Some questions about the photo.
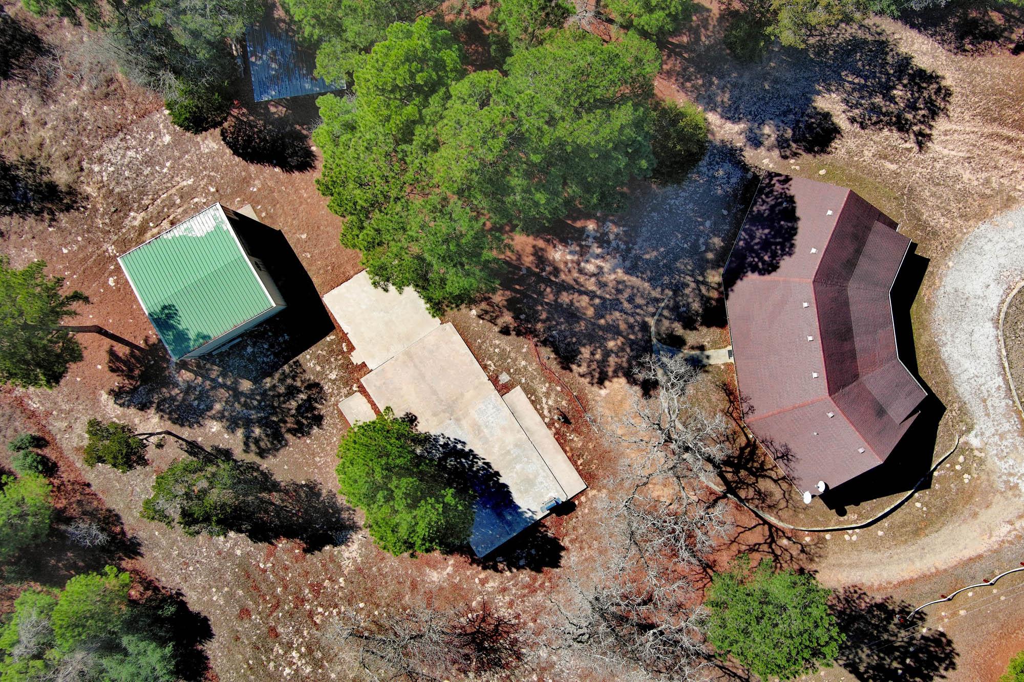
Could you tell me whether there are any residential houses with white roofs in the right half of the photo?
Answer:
No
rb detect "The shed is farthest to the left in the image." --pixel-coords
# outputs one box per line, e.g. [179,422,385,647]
[117,202,287,360]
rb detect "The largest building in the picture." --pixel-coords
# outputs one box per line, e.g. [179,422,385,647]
[721,170,928,499]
